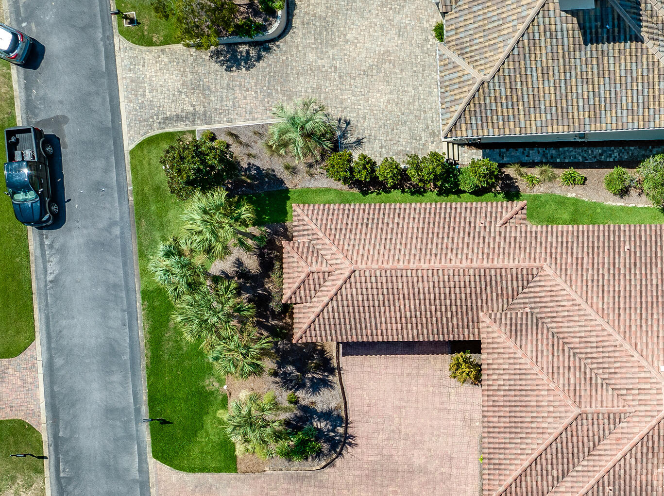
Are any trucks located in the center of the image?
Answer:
No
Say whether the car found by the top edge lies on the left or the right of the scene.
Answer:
left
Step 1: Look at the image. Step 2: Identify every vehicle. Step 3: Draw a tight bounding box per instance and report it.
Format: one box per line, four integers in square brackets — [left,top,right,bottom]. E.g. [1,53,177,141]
[0,20,38,65]
[4,121,62,228]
